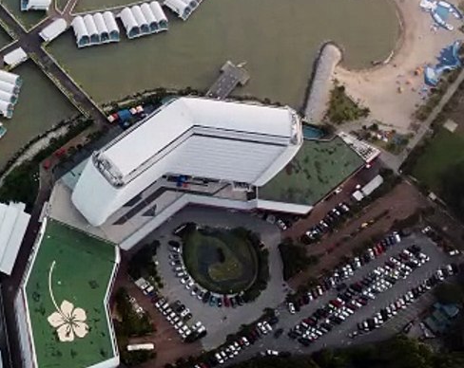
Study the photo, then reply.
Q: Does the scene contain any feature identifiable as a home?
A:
Yes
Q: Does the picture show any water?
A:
Yes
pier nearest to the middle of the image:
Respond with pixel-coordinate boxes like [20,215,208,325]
[207,60,249,100]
